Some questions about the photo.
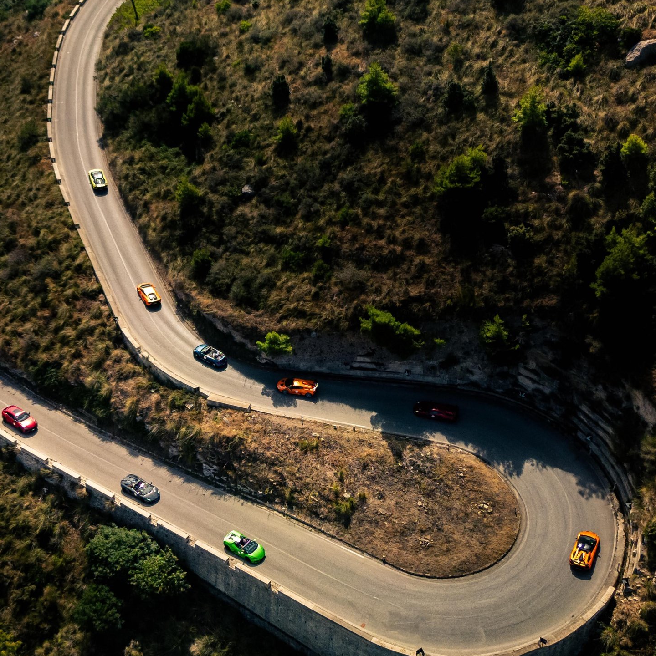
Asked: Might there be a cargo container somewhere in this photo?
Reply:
No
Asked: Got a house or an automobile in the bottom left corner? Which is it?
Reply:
automobile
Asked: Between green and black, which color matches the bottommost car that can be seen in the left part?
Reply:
green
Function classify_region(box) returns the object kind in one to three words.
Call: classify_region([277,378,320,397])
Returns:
car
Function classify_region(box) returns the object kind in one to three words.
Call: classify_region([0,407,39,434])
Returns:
car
